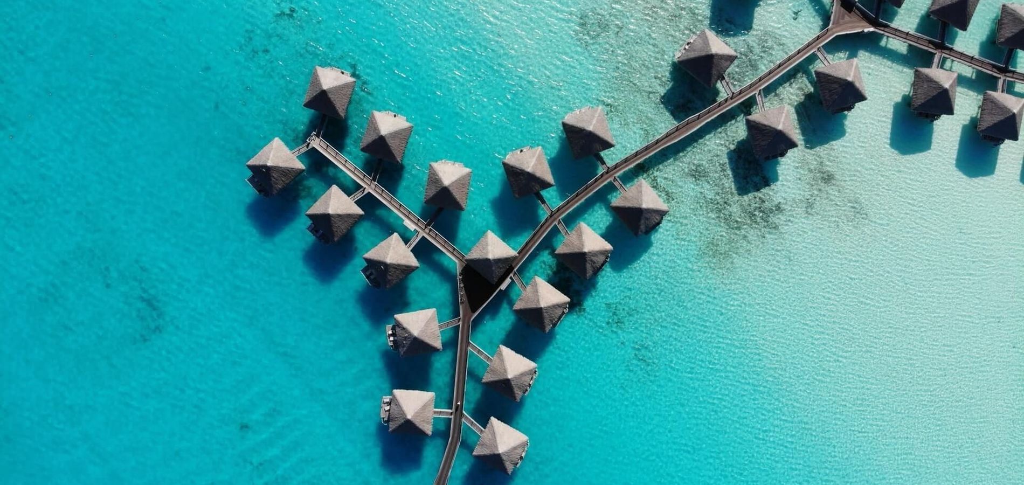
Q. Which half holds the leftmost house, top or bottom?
top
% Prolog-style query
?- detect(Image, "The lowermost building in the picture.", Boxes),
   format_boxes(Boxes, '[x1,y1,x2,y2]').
[472,418,529,475]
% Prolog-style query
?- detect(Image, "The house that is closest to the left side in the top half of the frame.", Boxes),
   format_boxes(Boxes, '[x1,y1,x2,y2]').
[244,137,306,199]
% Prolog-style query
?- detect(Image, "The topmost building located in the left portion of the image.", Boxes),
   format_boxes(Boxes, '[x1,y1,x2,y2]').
[303,65,356,119]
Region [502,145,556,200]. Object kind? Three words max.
house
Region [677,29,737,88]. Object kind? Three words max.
house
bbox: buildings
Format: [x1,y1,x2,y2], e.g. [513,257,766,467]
[378,389,435,435]
[481,345,538,402]
[972,90,1024,145]
[303,65,356,119]
[908,68,958,121]
[610,178,669,237]
[746,105,799,161]
[386,308,442,357]
[512,275,570,333]
[555,221,614,280]
[472,418,529,475]
[360,109,414,164]
[423,159,472,211]
[358,232,420,291]
[502,145,556,200]
[562,105,615,160]
[926,0,981,30]
[991,0,1024,49]
[677,29,737,88]
[244,137,306,199]
[304,184,364,246]
[465,230,519,284]
[815,58,868,114]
